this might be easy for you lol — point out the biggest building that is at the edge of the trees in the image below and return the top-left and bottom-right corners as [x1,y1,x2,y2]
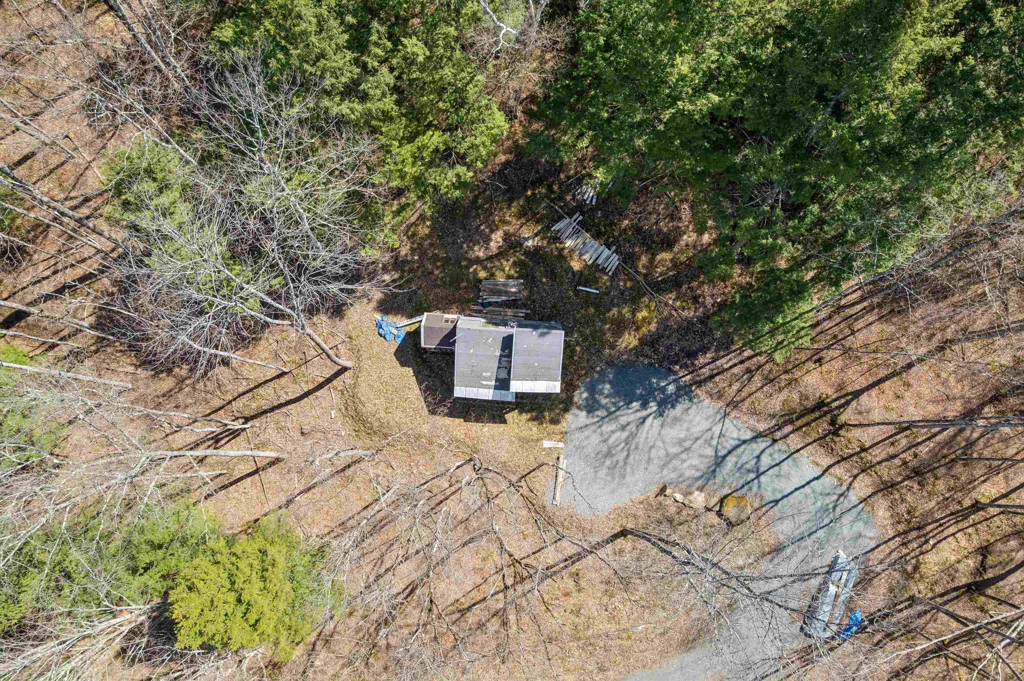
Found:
[453,315,572,402]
